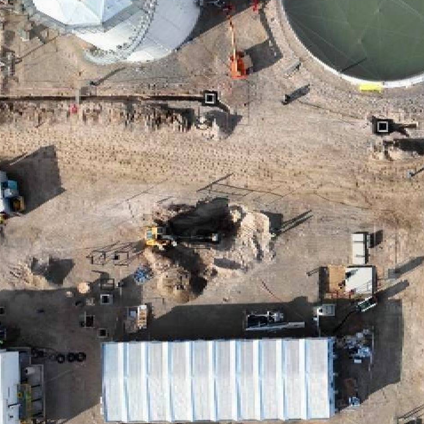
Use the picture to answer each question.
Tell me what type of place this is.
industrial area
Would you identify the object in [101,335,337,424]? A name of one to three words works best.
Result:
shed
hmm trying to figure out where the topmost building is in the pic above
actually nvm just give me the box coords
[353,234,366,264]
